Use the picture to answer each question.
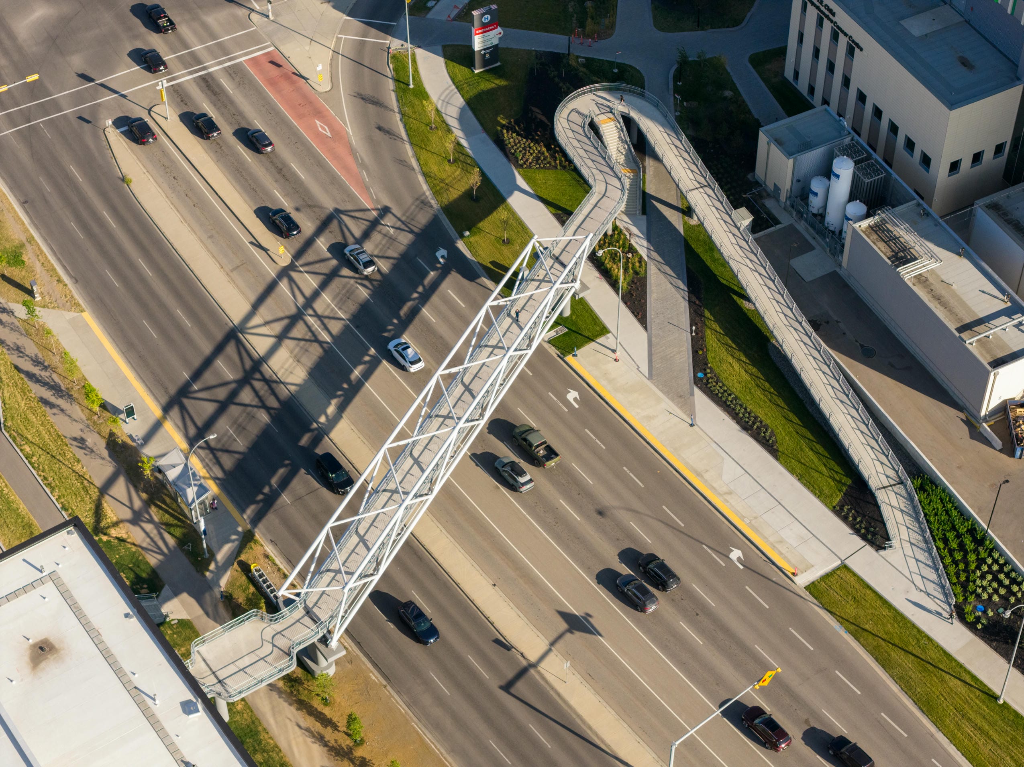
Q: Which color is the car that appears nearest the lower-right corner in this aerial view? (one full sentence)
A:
The color of the car that appears nearest the lower-right corner is black.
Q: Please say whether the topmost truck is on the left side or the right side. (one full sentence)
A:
The topmost truck sits on the left side.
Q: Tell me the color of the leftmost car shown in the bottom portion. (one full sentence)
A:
In this view, the leftmost car shown in the bottom portion is black.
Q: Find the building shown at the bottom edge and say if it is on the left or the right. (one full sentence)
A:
The building shown at the bottom edge is on the left side of the image.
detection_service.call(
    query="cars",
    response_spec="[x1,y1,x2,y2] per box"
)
[193,112,223,142]
[317,447,355,498]
[742,704,794,758]
[825,731,877,767]
[398,596,440,649]
[247,128,277,158]
[494,455,535,496]
[387,338,425,376]
[637,550,682,597]
[142,48,168,76]
[616,572,660,619]
[343,244,379,279]
[128,117,157,148]
[268,207,301,242]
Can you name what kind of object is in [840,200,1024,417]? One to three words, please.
building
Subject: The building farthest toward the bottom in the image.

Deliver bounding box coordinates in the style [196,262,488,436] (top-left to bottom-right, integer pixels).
[0,514,259,767]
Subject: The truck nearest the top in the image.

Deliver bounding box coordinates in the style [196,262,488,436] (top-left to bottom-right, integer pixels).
[145,3,179,36]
